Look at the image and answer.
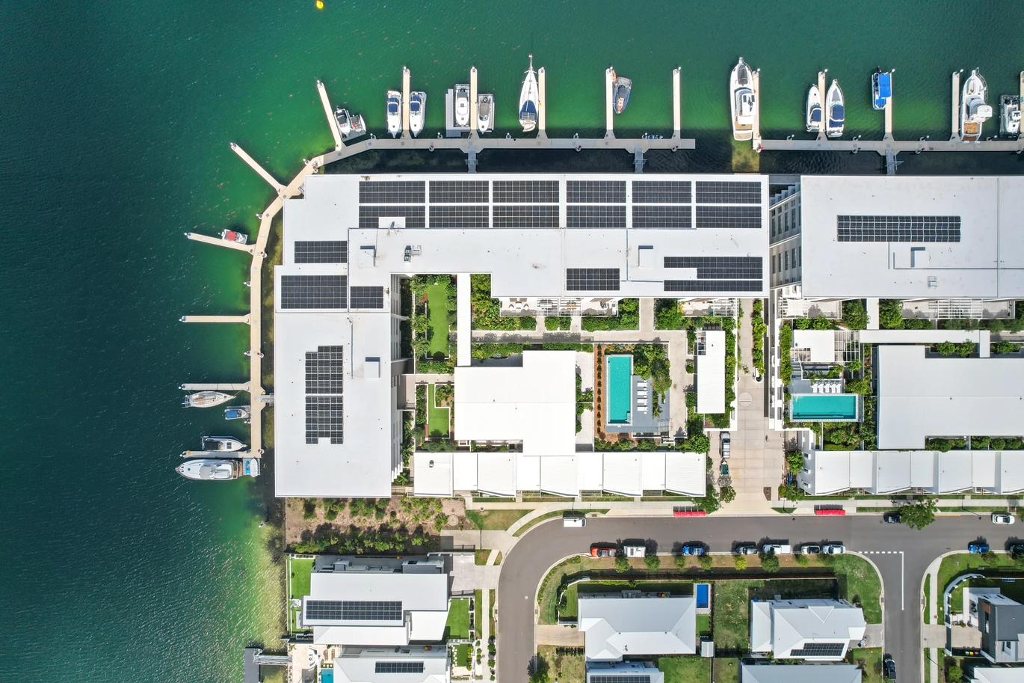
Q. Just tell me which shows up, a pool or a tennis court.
pool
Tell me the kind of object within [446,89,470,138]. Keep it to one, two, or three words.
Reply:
pier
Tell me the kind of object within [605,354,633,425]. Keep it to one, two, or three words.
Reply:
swimming pool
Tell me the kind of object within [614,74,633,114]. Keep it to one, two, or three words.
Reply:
boat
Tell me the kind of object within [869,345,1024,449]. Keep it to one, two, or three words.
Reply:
building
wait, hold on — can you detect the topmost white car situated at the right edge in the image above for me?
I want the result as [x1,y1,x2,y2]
[990,513,1015,525]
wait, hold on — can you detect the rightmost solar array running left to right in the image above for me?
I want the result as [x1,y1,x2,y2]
[838,216,961,242]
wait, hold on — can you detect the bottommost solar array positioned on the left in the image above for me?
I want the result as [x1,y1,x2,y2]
[375,661,424,674]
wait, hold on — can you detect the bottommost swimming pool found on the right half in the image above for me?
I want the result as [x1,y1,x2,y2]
[696,583,710,613]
